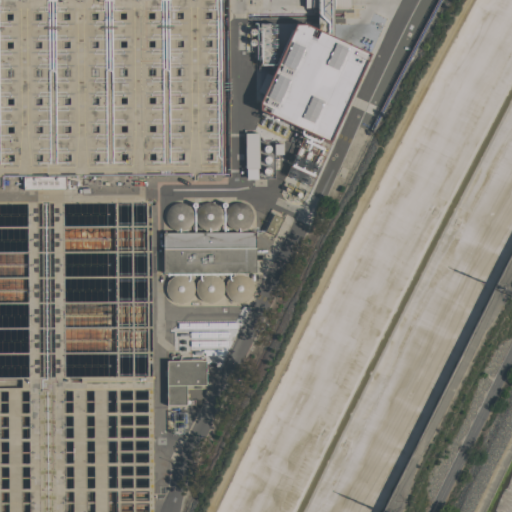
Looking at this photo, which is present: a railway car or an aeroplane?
railway car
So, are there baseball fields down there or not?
No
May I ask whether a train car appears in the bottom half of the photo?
No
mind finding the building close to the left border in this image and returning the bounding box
[24,176,66,190]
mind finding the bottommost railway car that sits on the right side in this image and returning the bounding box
[372,113,385,132]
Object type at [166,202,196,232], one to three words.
storage tank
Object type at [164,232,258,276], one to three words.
building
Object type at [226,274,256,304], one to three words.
storage tank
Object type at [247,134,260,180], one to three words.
building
